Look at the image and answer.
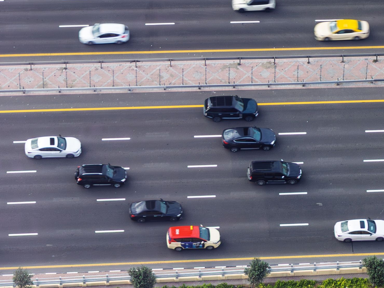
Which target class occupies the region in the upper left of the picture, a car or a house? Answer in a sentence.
The feature located in the upper left of the picture is a car.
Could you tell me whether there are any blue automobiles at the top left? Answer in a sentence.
No, I see no blue automobile at the top left.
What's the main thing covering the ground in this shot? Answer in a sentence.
The largest share of the image is taken up by paved ground.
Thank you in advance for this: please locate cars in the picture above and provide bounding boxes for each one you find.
[165,225,222,253]
[232,0,275,13]
[334,217,384,243]
[221,125,278,152]
[203,96,258,122]
[128,197,184,223]
[315,18,369,41]
[25,134,82,160]
[246,160,303,187]
[79,22,129,45]
[72,163,128,189]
